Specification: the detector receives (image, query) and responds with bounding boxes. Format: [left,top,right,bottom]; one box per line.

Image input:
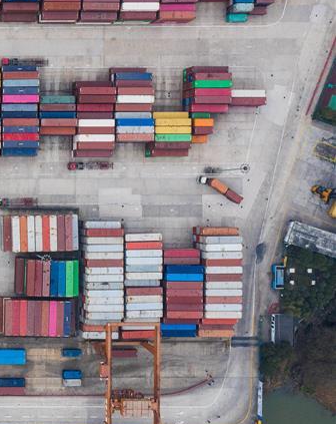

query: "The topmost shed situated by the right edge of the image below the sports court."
[279,220,336,258]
